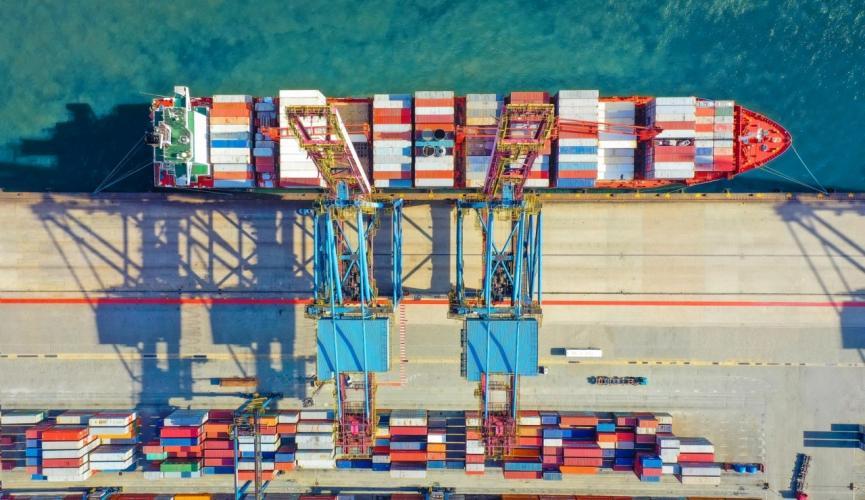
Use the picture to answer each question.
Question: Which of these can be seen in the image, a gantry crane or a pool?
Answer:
gantry crane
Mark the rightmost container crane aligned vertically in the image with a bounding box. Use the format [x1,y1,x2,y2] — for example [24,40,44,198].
[443,105,556,470]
